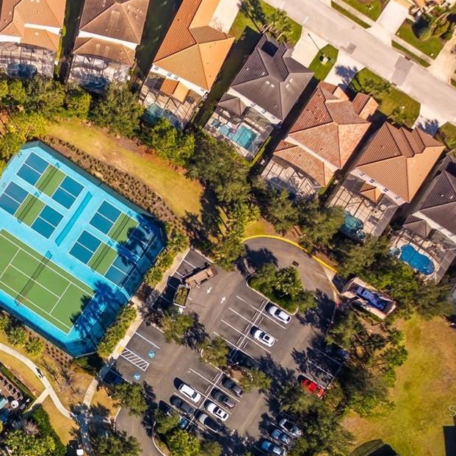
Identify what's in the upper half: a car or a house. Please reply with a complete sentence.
What appears in the upper half is a house.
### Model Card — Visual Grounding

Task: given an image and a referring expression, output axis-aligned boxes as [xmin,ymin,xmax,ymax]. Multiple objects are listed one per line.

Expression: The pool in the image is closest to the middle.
[279,183,304,203]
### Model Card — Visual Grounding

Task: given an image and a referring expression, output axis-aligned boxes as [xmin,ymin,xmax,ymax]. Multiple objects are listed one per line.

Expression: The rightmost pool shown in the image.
[402,245,435,276]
